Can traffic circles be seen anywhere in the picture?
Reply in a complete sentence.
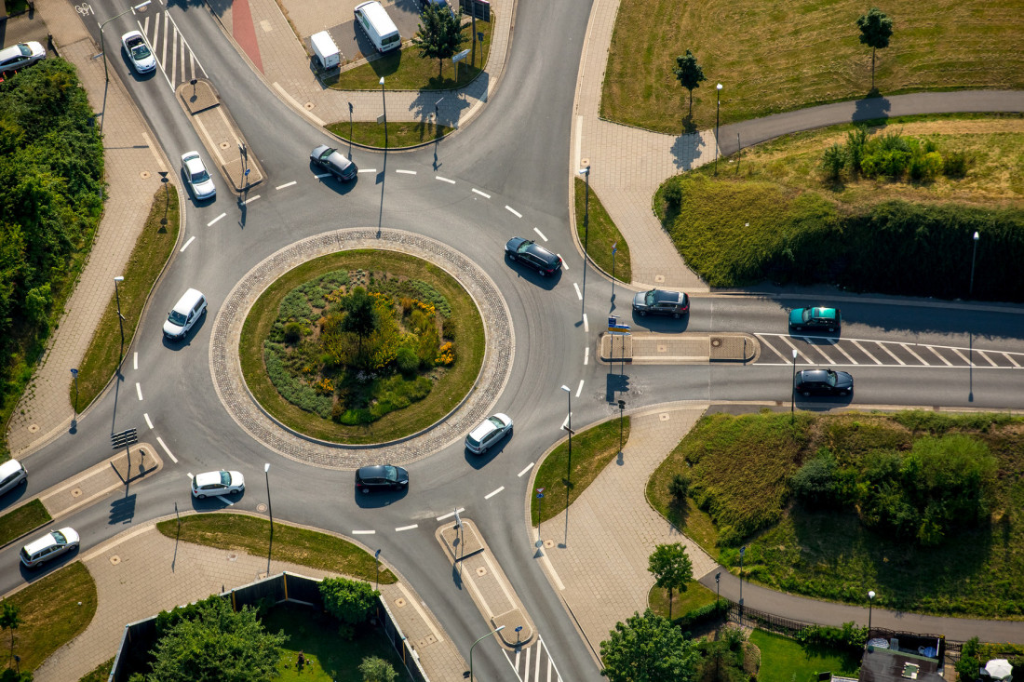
Yes, there's a traffic circle here.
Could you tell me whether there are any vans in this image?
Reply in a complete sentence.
Yes, looking at the shot, I can spot a van.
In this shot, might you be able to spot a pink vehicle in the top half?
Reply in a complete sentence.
No, there is no pink vehicle in the top half.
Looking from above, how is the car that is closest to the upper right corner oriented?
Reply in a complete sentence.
Seen from above, the car that is closest to the upper right corner lies from side to side.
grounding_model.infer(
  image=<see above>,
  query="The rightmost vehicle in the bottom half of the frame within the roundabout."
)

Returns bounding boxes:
[463,417,514,457]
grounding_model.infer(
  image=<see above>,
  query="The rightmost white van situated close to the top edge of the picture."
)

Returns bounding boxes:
[353,0,399,50]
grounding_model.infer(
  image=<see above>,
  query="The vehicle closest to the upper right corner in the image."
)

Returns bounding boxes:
[790,308,841,334]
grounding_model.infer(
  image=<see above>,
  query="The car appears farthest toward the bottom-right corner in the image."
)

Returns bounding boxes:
[796,370,852,397]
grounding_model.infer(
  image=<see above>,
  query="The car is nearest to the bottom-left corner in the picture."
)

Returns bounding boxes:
[19,530,80,568]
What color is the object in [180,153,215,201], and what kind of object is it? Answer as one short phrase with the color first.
white car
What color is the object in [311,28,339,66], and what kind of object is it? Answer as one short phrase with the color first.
white trailer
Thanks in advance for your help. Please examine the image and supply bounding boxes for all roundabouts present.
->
[134,169,589,534]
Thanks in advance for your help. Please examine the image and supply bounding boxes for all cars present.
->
[0,47,42,80]
[123,31,154,74]
[19,530,80,568]
[796,370,852,397]
[790,308,841,334]
[309,147,359,186]
[463,417,514,457]
[192,471,245,500]
[355,466,408,492]
[424,0,455,15]
[0,464,30,496]
[505,239,563,278]
[180,153,215,201]
[632,290,690,320]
